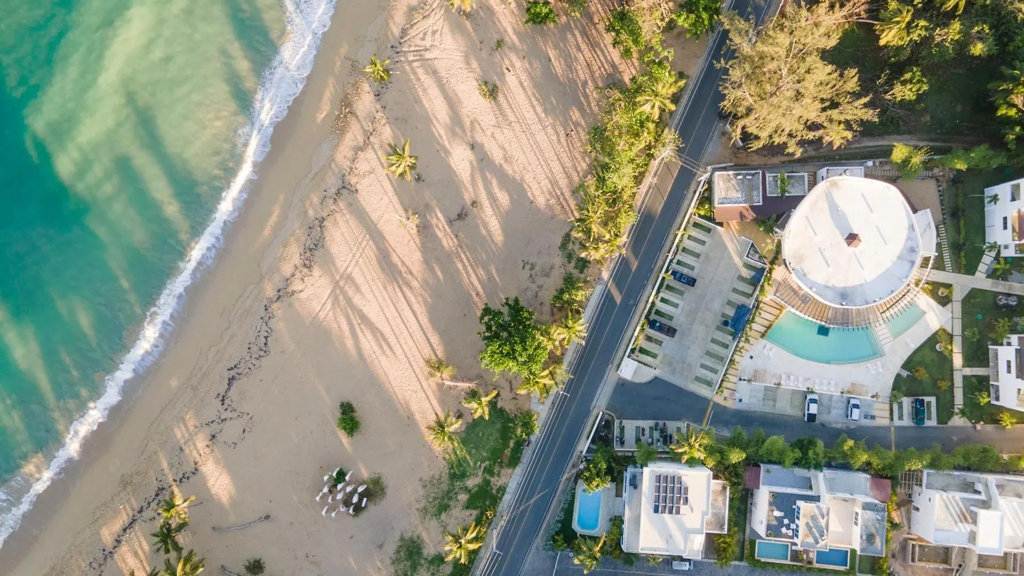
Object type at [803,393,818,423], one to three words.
car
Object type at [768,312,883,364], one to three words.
swimming pool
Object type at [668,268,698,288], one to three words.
car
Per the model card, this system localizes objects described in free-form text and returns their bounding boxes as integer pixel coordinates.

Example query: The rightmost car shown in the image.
[910,397,926,426]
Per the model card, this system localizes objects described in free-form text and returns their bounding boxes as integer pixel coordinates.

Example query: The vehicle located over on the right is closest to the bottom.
[670,558,693,571]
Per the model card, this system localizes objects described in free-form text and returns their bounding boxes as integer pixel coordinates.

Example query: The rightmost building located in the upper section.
[983,179,1024,257]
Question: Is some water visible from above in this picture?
Yes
